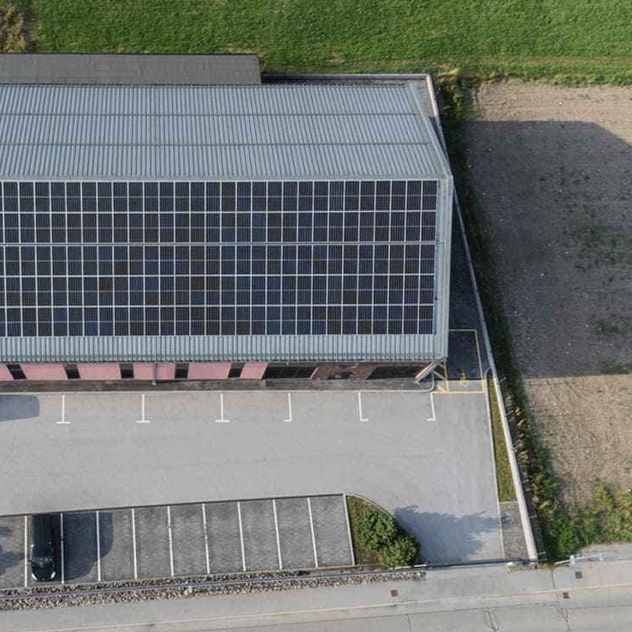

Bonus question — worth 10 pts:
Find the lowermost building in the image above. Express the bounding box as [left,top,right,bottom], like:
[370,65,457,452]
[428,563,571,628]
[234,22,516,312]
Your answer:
[0,82,452,383]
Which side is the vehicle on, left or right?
left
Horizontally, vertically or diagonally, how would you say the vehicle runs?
vertically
